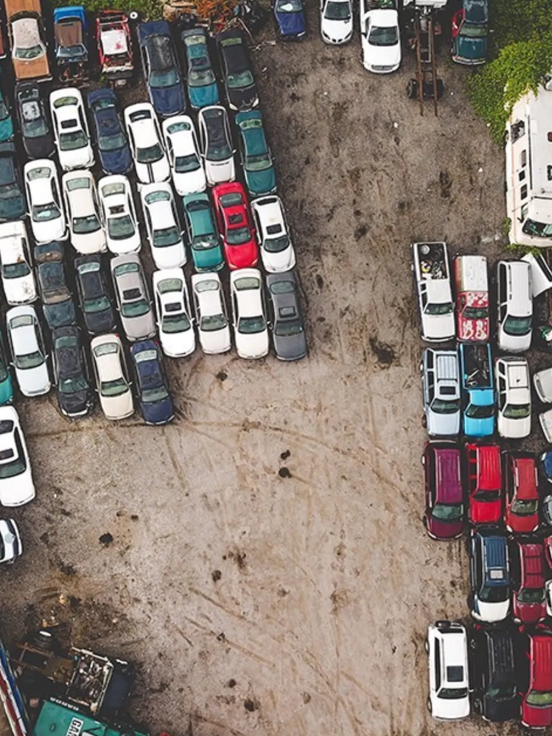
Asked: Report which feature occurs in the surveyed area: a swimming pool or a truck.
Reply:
truck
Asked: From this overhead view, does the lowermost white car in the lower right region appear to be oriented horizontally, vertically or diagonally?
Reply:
vertically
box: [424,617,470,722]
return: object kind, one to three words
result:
car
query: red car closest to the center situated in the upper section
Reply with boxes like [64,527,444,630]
[215,179,259,271]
